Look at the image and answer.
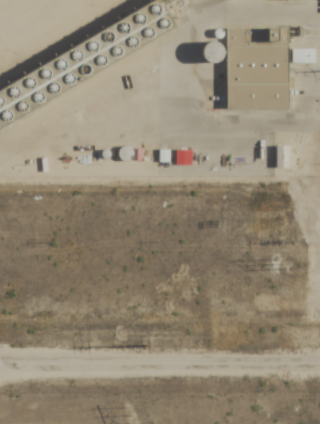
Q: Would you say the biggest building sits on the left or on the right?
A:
right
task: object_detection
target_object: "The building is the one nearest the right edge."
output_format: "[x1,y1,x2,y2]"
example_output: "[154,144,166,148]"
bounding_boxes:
[292,48,316,62]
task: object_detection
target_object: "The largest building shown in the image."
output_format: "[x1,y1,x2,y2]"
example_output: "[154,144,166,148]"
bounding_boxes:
[226,27,290,108]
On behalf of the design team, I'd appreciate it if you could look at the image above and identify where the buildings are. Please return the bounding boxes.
[226,27,290,108]
[276,145,290,168]
[292,48,316,62]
